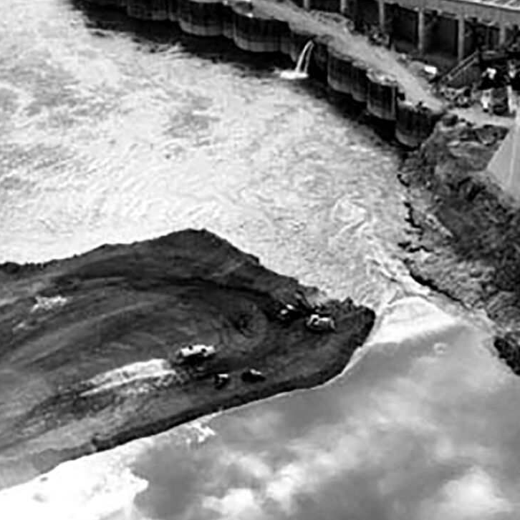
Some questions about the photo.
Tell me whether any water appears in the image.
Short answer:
Yes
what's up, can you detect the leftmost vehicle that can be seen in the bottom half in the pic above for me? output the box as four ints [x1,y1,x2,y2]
[177,343,213,362]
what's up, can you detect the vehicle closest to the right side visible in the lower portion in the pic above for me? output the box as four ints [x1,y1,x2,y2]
[308,314,337,329]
